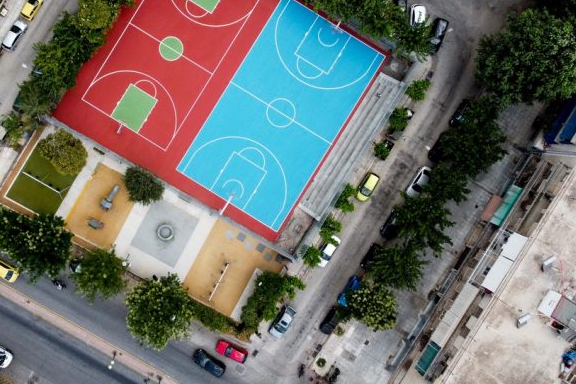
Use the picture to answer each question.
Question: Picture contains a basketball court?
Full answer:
Yes, a basketball court is visible in the scene.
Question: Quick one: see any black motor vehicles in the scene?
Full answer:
Yes, the picture does show a black motor vehicle.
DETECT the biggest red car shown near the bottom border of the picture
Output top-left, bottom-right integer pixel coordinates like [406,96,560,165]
[215,338,250,366]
